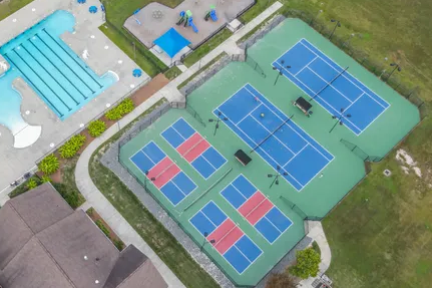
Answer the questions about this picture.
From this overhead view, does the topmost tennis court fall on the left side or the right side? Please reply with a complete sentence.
The topmost tennis court appears in the right half of the scene.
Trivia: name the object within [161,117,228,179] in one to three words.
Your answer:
sports court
